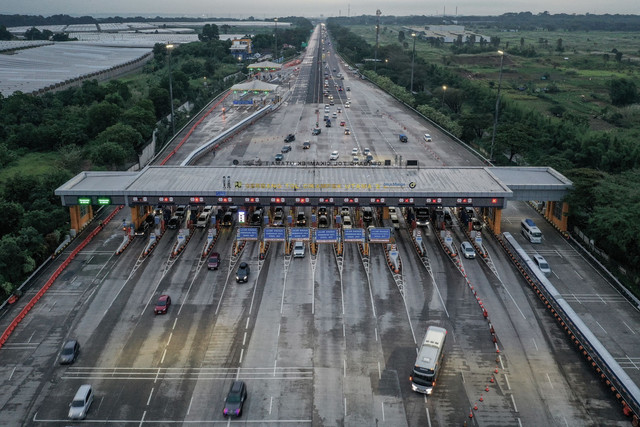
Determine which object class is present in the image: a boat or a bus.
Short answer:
bus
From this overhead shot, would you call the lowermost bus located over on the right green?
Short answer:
No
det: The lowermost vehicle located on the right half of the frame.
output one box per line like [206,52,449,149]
[408,328,446,395]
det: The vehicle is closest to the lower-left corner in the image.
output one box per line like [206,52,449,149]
[63,389,92,419]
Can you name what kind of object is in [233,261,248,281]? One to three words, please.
car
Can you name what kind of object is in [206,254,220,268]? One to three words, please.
vehicle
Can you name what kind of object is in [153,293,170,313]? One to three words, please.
car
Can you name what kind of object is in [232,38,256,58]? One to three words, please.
building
